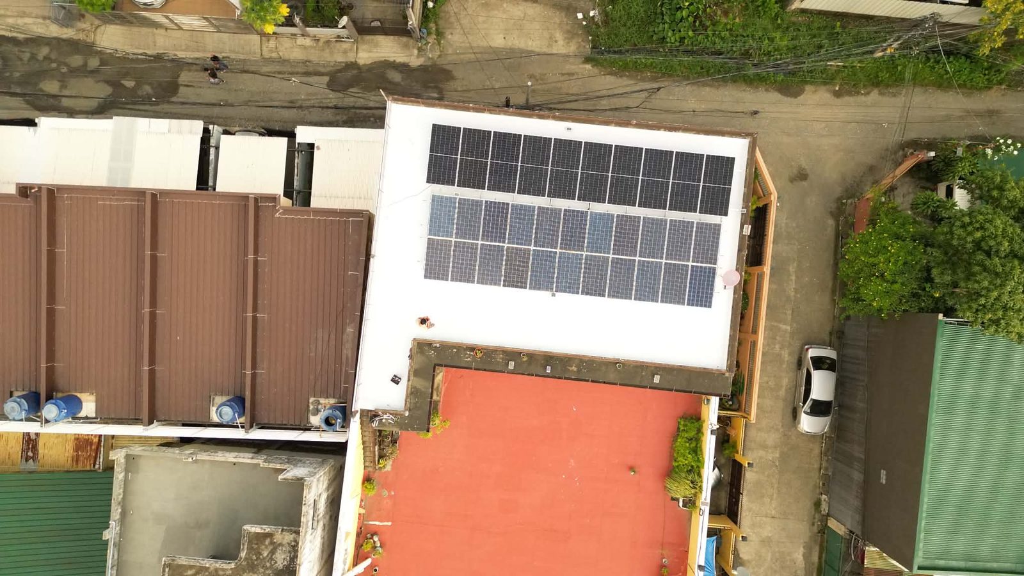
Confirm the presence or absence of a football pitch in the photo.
No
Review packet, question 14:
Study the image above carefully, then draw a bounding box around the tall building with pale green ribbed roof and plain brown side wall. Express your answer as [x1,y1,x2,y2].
[829,308,1024,576]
